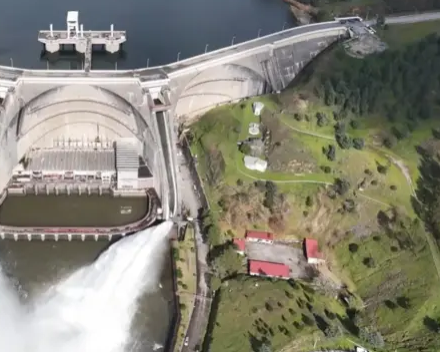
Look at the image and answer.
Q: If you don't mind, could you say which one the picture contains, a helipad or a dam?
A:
dam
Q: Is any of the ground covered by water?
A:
Yes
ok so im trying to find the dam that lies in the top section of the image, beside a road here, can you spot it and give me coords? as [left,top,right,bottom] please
[0,18,360,230]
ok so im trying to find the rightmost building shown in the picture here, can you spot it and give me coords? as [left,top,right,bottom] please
[305,238,323,263]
